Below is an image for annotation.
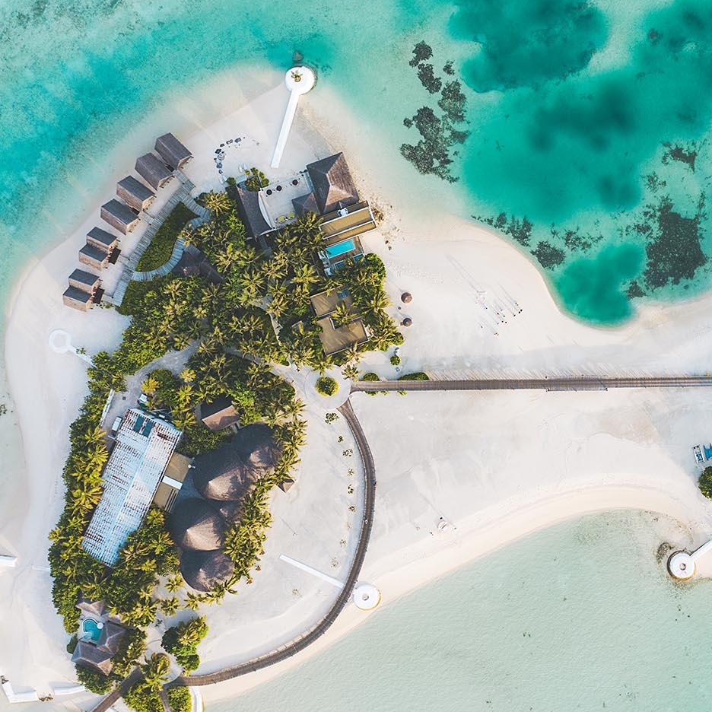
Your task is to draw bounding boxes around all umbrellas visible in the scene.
[402,291,412,303]
[403,317,412,327]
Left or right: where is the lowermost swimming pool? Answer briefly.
left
